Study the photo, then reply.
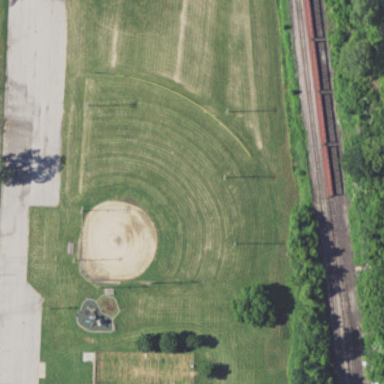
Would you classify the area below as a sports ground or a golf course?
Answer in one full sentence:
This looks like a sports ground.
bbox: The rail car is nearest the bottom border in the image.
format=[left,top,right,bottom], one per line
[322,144,334,196]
